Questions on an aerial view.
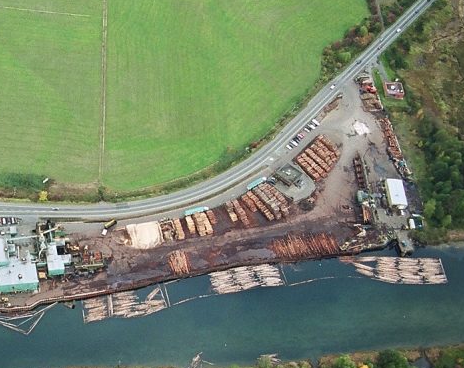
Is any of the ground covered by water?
Yes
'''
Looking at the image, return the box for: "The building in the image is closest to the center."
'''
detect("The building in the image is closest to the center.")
[275,163,302,186]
